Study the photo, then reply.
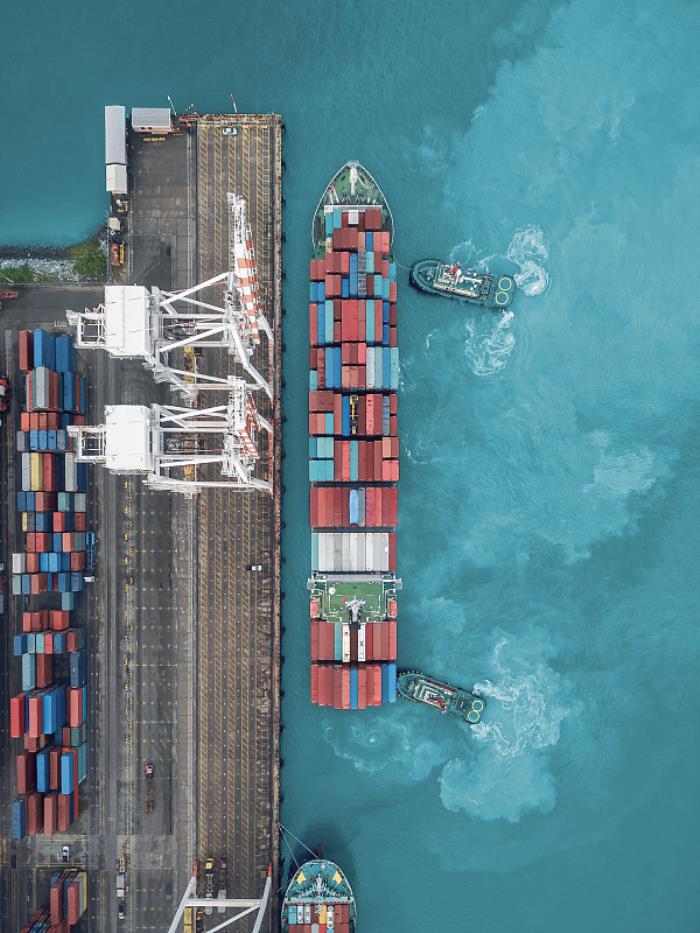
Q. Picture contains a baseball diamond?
No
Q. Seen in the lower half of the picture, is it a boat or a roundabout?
boat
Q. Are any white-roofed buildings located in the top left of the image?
Yes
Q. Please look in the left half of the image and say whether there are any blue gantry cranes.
No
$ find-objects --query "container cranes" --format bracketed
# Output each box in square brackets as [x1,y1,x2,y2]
[66,185,274,410]
[66,371,274,502]
[169,866,274,933]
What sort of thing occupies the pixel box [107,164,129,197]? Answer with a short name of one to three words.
building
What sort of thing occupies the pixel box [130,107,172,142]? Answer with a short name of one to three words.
building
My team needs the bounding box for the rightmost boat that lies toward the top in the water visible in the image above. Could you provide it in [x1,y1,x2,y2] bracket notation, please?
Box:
[408,259,519,311]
